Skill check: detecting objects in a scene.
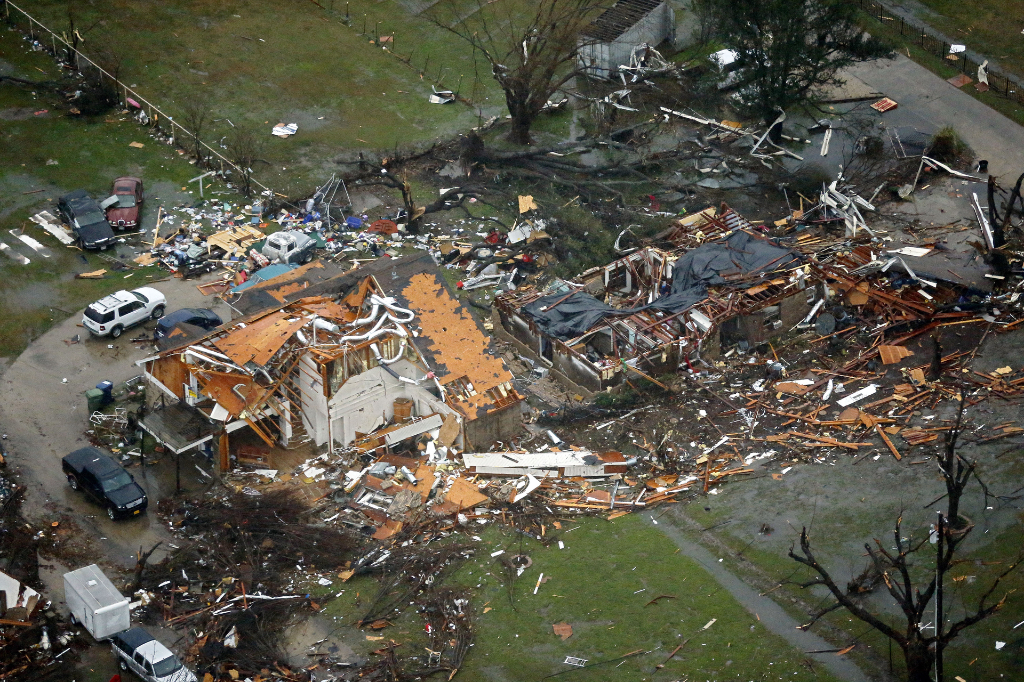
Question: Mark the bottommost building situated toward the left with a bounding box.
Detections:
[135,251,529,498]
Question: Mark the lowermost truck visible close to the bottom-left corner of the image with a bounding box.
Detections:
[110,629,185,682]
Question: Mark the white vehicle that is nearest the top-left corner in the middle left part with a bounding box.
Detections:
[85,284,171,336]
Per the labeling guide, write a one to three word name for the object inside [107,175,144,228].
car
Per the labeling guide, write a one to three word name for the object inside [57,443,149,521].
truck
